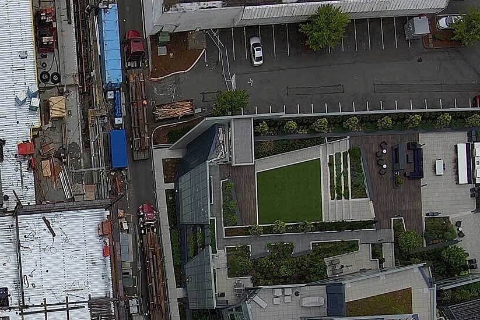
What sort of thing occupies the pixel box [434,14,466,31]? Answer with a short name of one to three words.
car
